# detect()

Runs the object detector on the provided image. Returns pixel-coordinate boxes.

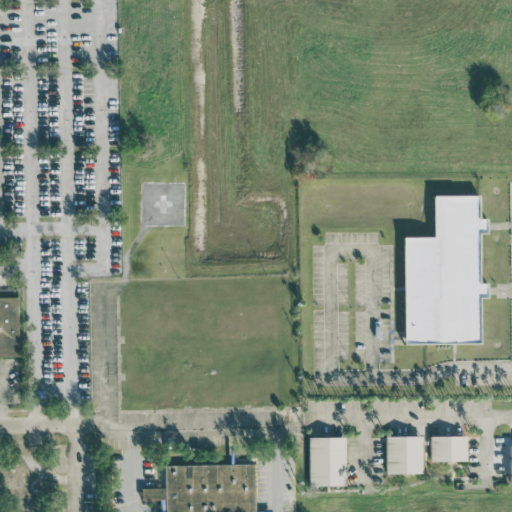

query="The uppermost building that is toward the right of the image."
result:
[396,195,491,347]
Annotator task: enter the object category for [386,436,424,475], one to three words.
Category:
house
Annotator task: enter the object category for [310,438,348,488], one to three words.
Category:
house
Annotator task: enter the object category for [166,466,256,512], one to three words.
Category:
building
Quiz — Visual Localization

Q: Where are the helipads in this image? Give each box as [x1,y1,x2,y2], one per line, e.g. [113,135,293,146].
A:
[142,183,186,226]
